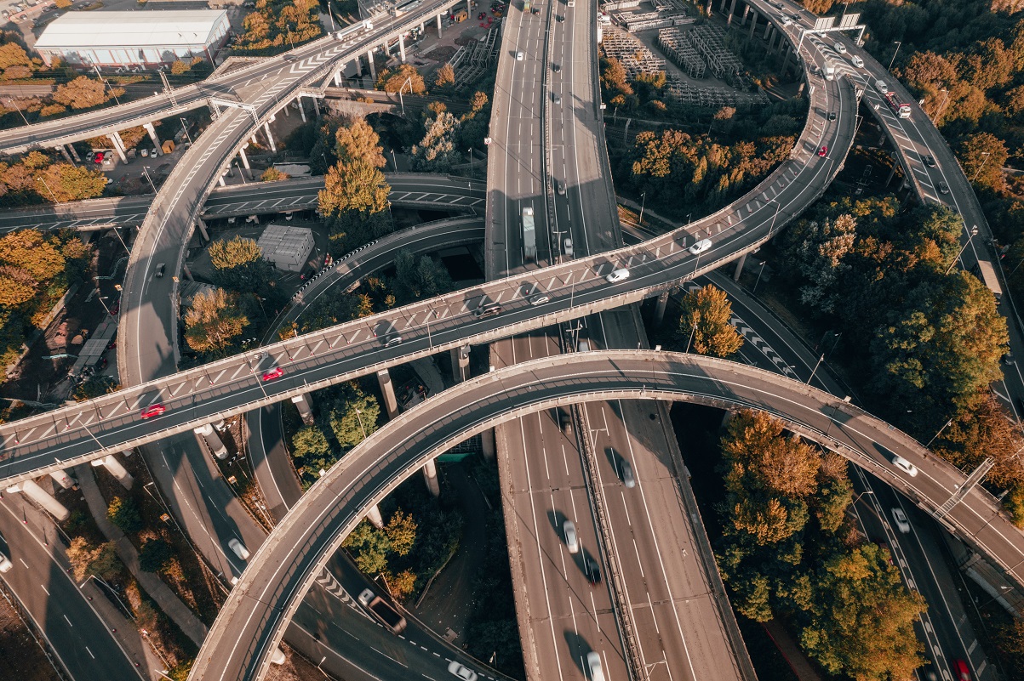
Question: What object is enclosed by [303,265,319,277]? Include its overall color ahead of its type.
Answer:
black vehicle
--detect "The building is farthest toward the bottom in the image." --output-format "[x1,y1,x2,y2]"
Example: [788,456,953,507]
[253,226,315,276]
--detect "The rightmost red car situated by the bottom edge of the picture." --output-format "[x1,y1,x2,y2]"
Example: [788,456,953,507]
[952,657,973,681]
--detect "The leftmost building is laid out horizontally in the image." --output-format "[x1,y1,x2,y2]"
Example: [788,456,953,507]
[37,11,231,63]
